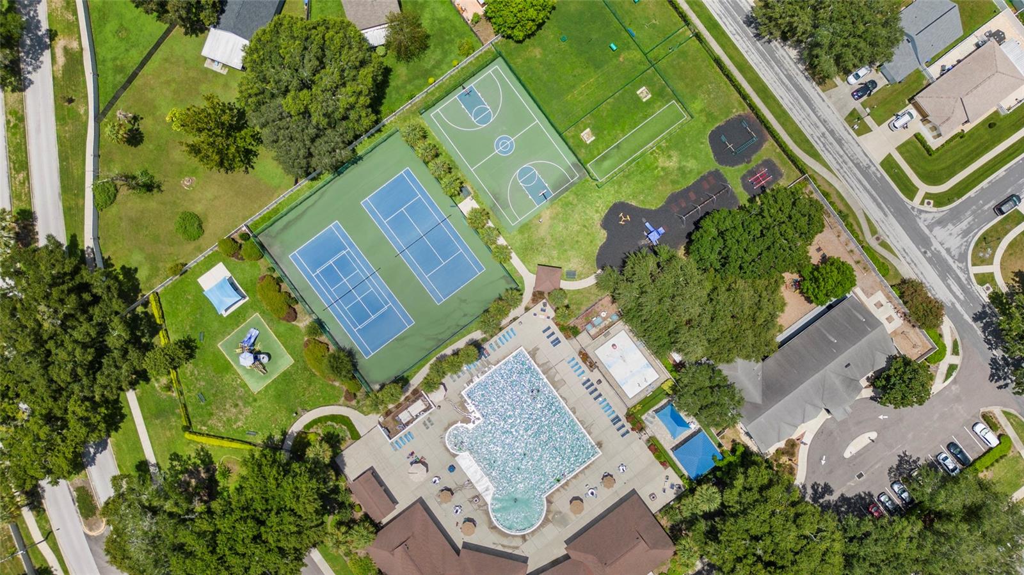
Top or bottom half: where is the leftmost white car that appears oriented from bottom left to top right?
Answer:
top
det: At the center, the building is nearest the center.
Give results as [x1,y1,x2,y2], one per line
[535,264,561,291]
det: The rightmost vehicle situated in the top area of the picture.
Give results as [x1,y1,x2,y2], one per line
[992,195,1020,216]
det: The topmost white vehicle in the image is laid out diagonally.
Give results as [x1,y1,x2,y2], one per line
[844,64,870,85]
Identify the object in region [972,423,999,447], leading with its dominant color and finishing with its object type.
white car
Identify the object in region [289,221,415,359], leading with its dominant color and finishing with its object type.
blue tennis court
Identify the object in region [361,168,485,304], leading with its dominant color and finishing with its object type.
blue tennis court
